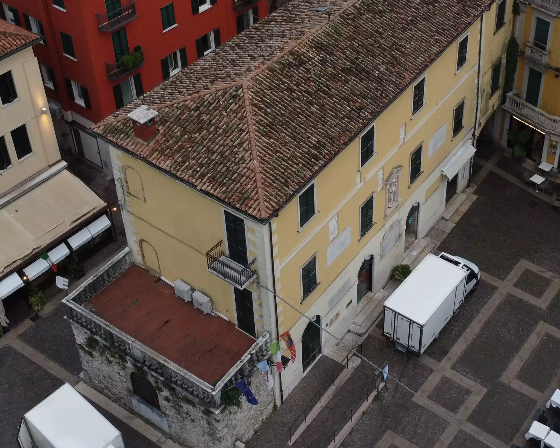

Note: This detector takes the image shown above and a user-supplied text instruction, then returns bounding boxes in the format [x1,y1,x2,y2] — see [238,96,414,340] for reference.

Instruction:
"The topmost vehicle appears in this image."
[382,249,483,357]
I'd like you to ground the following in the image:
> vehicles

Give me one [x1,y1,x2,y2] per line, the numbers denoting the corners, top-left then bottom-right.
[13,383,125,448]
[382,249,483,357]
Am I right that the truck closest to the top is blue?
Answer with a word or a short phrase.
No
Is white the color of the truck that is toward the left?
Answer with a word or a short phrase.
Yes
